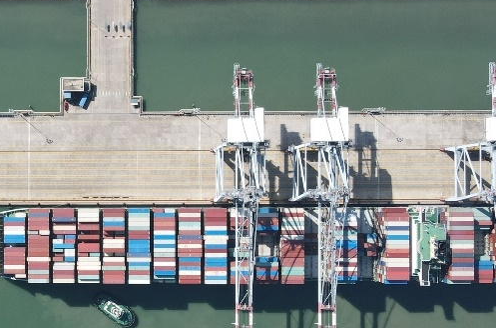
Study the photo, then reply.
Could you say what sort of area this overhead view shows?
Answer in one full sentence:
What you see here is a port.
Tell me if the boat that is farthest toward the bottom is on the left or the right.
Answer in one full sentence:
You can find the boat that is farthest toward the bottom on the left side of the picture.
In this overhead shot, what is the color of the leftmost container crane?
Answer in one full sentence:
The color of the leftmost container crane is white.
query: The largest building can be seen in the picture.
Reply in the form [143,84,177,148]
[61,78,83,92]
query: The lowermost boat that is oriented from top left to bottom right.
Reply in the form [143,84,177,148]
[92,291,136,328]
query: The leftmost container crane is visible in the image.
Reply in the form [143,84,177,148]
[210,64,268,328]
